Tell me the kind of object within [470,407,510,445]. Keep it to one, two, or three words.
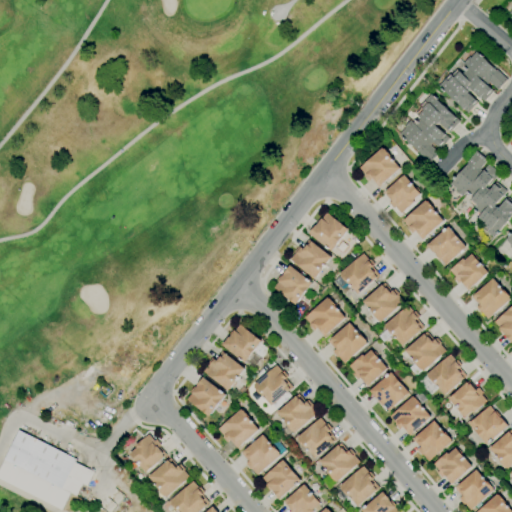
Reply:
house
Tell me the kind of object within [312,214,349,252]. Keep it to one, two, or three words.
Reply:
house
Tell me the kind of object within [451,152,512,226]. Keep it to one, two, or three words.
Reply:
building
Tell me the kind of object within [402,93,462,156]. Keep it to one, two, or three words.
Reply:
building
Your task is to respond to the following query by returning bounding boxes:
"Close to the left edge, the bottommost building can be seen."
[0,430,94,511]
